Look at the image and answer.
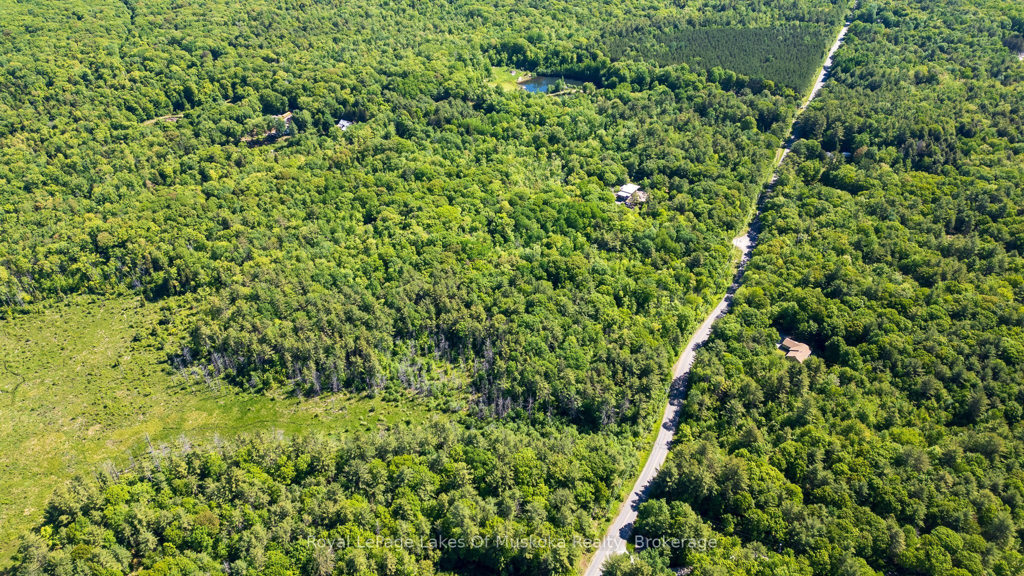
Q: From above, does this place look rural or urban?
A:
rural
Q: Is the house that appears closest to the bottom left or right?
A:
right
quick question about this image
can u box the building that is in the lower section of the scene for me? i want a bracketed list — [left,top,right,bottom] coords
[782,341,812,367]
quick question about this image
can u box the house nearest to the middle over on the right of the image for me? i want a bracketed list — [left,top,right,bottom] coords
[612,183,641,203]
